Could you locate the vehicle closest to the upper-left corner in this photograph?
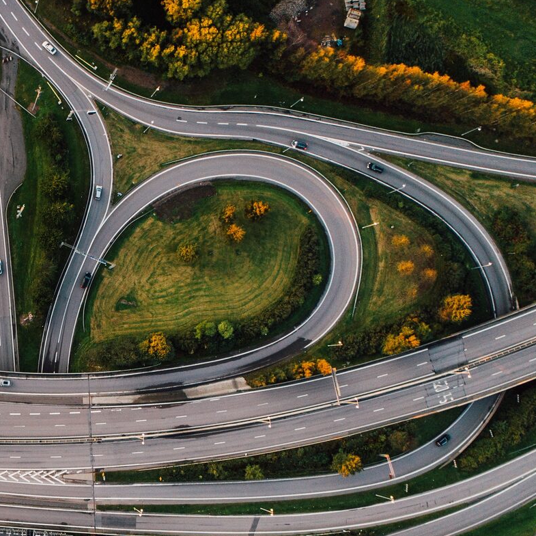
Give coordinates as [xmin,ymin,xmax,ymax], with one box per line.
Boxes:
[41,40,56,56]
